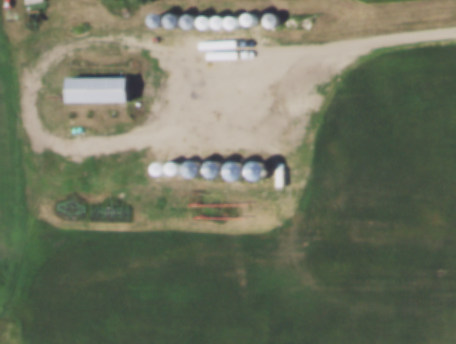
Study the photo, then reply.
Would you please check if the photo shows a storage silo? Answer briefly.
Yes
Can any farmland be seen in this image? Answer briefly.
Yes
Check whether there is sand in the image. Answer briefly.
No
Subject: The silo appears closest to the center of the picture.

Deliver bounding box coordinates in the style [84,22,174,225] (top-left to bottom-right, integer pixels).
[220,162,242,184]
